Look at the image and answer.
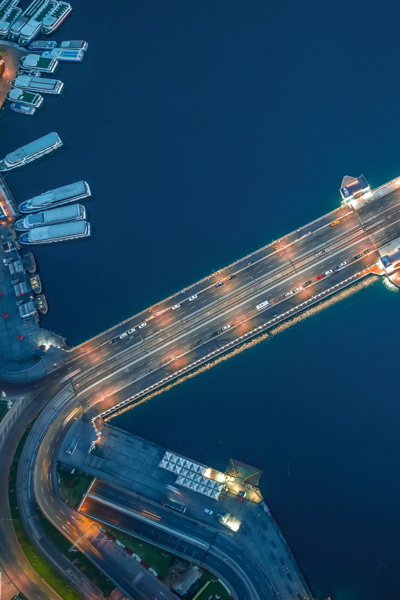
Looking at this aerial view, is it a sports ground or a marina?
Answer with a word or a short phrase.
marina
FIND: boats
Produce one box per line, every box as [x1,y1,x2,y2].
[28,41,58,53]
[21,56,60,74]
[9,0,46,43]
[14,205,88,231]
[61,41,91,54]
[34,293,50,315]
[0,134,66,172]
[7,91,46,108]
[20,0,57,47]
[0,9,23,39]
[11,104,38,116]
[12,78,66,95]
[23,252,38,274]
[27,273,43,295]
[0,0,20,22]
[20,222,92,246]
[20,183,92,212]
[43,48,87,64]
[43,2,71,37]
